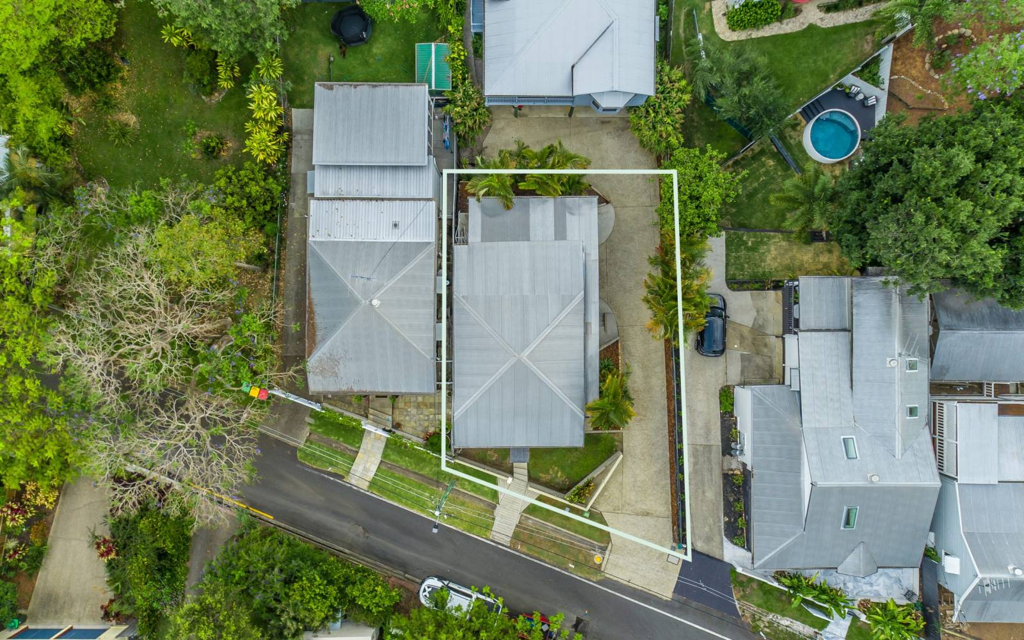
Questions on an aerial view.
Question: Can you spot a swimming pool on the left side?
No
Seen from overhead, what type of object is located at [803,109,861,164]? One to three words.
swimming pool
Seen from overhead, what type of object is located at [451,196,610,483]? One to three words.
house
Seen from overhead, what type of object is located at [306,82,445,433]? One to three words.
house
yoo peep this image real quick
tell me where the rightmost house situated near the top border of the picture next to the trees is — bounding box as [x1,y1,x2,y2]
[471,0,659,120]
